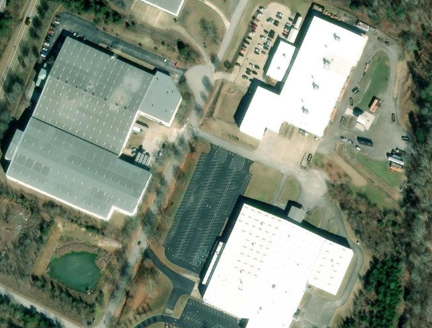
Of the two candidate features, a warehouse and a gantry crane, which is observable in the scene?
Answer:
warehouse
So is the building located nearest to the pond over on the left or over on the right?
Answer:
left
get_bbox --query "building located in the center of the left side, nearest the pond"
[6,118,152,221]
